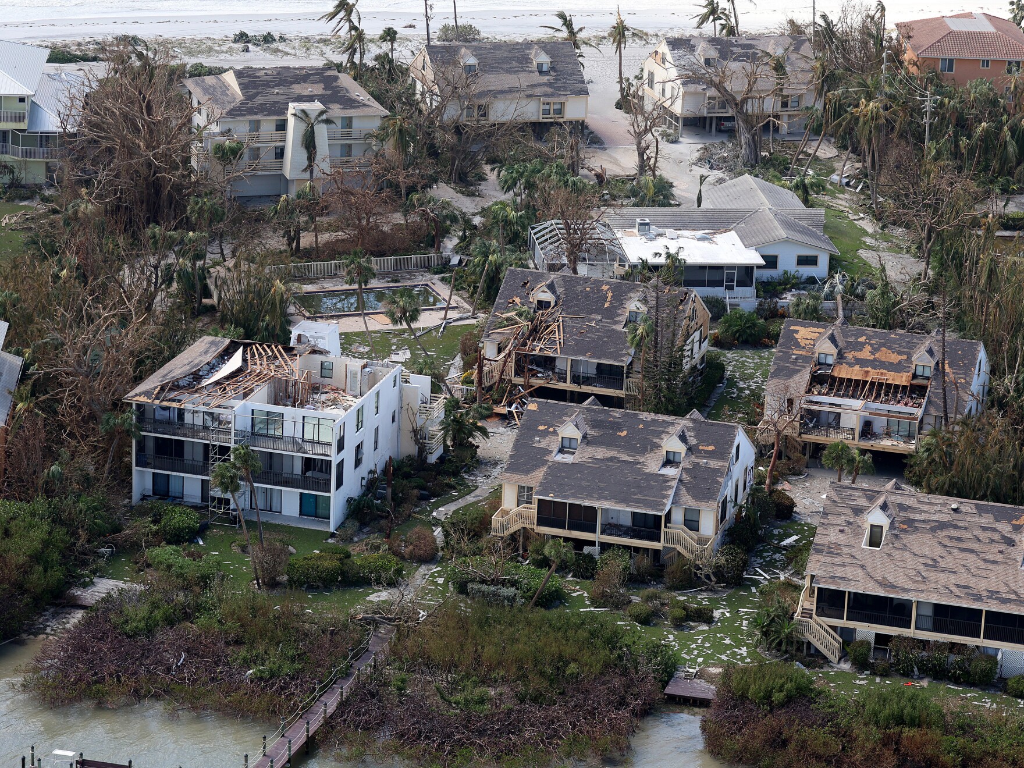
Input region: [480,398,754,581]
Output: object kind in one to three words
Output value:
house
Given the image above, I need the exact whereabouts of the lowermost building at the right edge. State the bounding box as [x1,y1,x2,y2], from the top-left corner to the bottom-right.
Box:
[780,482,1024,678]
